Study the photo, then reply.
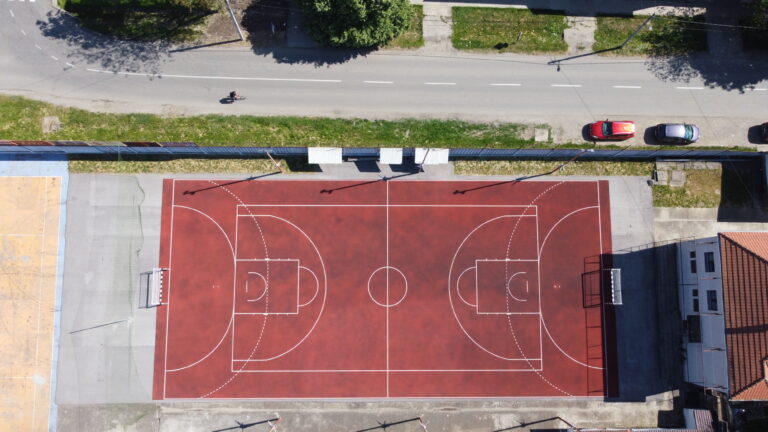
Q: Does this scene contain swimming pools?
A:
No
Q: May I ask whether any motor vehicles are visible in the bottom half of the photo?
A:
No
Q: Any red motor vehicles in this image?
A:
Yes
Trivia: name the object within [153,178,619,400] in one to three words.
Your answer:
sports court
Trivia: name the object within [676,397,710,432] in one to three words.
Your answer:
shed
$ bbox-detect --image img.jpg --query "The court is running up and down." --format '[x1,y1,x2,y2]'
[0,154,69,432]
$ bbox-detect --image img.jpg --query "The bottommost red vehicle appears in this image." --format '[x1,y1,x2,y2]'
[589,119,635,141]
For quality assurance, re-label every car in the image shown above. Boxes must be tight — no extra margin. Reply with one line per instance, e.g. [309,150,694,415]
[653,122,699,142]
[756,124,768,142]
[589,119,635,141]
